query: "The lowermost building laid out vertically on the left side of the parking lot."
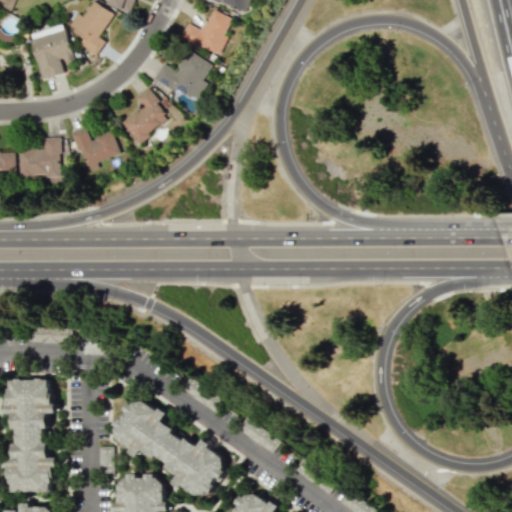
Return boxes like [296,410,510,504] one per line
[1,380,54,493]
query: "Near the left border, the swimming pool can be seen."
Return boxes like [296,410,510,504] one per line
[1,14,20,34]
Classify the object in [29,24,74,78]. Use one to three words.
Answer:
house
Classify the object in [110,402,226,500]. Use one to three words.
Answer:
building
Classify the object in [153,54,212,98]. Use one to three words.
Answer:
house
